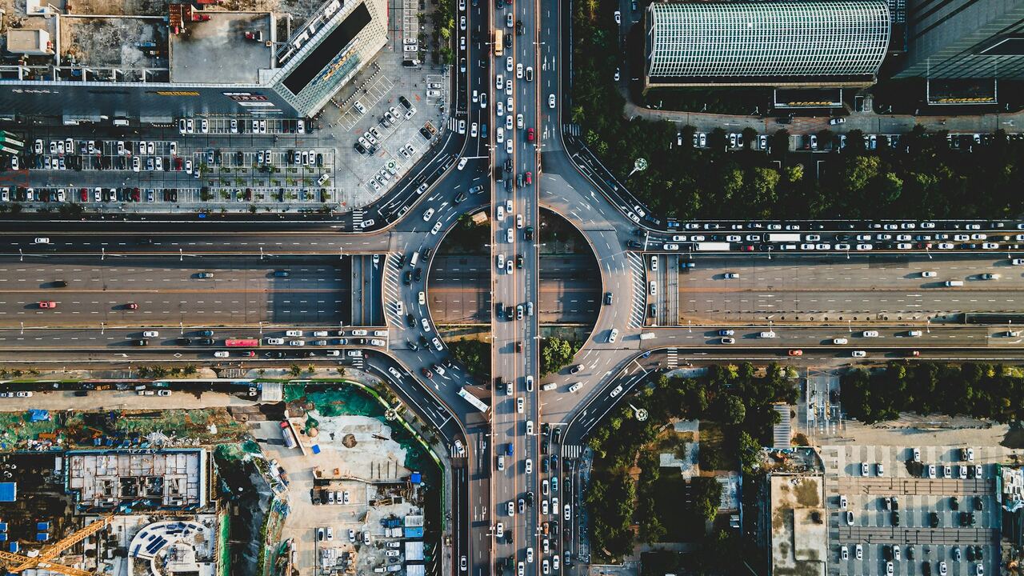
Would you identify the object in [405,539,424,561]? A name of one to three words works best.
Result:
shed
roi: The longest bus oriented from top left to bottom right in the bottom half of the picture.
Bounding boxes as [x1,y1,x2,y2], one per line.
[459,387,490,414]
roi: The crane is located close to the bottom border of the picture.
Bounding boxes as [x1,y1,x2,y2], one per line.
[1,514,117,576]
